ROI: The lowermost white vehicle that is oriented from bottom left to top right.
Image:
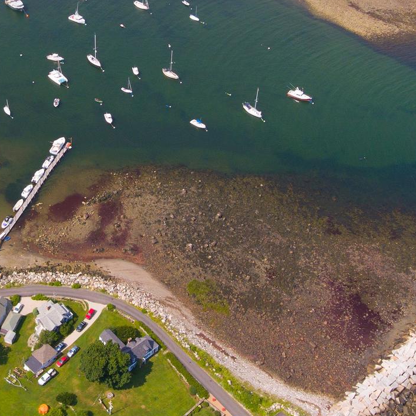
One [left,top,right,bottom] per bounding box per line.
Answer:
[38,367,58,383]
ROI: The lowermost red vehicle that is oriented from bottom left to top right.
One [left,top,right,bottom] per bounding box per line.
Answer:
[55,353,69,367]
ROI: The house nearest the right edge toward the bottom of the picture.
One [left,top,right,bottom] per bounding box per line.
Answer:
[98,329,161,374]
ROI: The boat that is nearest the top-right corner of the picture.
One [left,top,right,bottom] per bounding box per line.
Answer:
[286,80,314,100]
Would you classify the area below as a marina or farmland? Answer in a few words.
marina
